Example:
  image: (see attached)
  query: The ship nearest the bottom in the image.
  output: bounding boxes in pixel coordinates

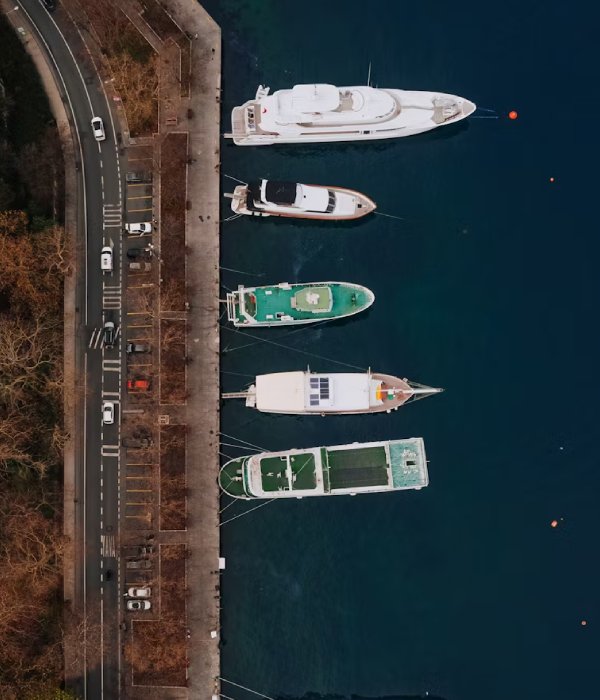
[219,436,430,501]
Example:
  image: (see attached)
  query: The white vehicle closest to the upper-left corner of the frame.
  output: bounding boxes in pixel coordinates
[90,115,105,139]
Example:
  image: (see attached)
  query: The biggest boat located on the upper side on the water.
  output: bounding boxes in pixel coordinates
[224,60,476,148]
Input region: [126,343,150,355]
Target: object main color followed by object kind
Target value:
gray vehicle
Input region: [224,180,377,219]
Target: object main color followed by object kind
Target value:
white boat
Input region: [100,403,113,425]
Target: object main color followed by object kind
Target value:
white vehicle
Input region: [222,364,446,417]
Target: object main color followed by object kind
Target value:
white boat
